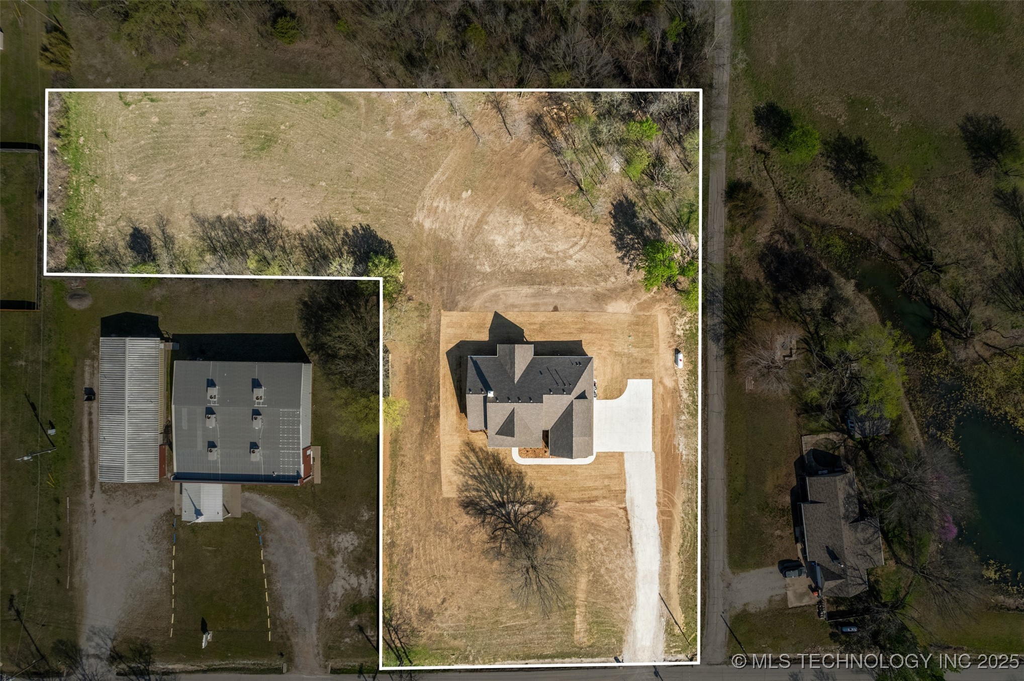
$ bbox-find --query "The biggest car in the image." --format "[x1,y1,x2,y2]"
[781,567,805,579]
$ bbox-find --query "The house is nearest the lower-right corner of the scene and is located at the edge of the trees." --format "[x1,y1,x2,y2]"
[802,471,884,597]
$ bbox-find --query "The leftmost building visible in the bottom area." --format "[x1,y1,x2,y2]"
[99,337,165,483]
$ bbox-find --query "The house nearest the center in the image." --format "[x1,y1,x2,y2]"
[466,344,594,459]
